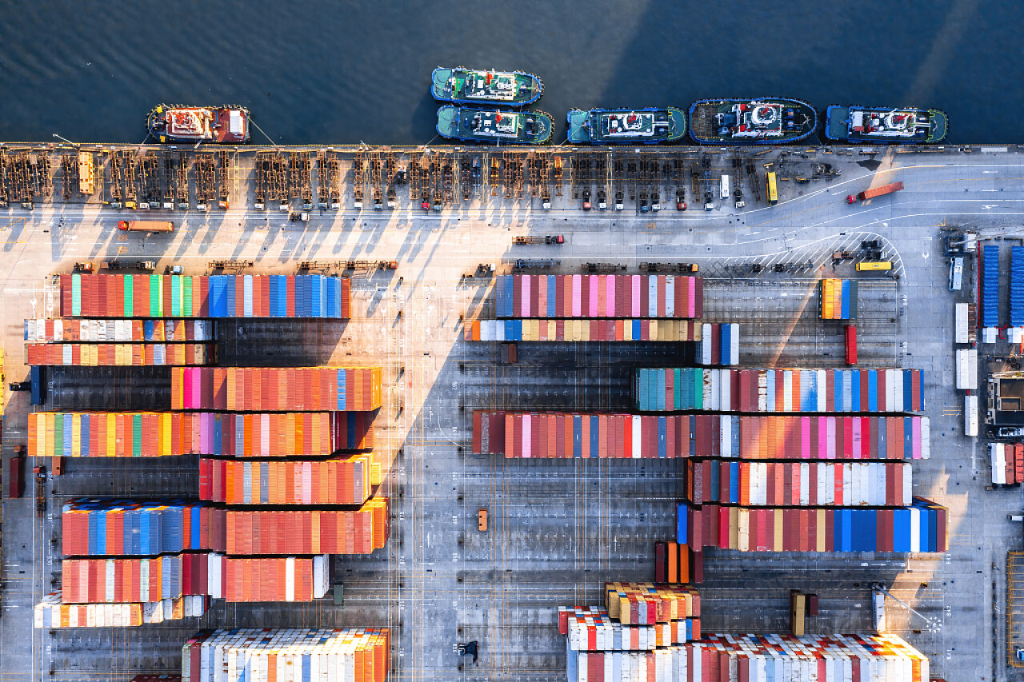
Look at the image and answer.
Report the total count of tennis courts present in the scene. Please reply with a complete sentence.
The picture shows no tennis courts.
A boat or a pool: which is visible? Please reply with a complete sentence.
This aerial view contains a boat.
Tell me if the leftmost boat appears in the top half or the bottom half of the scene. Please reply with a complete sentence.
The leftmost boat sits in the top half of the picture.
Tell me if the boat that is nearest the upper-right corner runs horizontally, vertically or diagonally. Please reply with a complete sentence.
The boat that is nearest the upper-right corner is oriented horizontally.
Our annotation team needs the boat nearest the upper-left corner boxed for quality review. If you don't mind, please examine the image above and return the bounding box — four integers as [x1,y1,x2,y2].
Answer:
[145,104,253,146]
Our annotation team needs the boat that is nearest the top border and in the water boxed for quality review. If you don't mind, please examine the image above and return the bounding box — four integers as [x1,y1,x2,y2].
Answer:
[431,65,546,109]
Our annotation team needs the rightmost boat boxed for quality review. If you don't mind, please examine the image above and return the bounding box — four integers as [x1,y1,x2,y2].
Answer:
[823,104,950,144]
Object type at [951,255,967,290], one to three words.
vehicle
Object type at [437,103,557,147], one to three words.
boat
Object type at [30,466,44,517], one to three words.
vehicle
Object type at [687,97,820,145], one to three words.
boat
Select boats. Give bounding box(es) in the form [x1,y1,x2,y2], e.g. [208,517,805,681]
[823,104,950,144]
[437,103,557,147]
[145,104,253,146]
[687,97,820,145]
[431,65,546,109]
[566,106,687,145]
